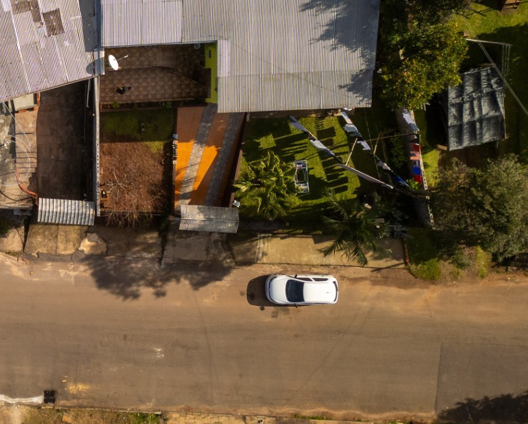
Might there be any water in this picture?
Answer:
No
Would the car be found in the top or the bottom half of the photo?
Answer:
bottom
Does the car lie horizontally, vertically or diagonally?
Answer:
horizontally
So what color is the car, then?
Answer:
white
